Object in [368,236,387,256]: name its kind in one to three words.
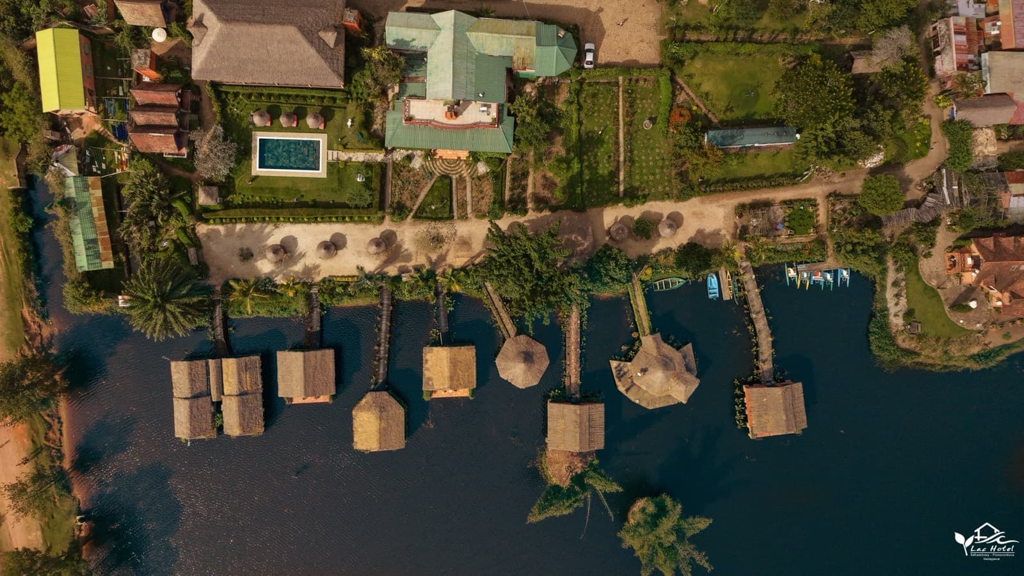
umbrella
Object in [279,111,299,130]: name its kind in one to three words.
umbrella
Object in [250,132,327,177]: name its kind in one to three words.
swimming pool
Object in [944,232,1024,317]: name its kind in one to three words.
house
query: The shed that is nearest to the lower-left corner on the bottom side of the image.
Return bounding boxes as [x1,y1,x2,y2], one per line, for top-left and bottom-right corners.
[170,355,270,439]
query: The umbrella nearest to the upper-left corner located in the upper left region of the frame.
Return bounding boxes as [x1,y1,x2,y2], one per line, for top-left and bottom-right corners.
[252,109,271,128]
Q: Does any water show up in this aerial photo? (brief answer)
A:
Yes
